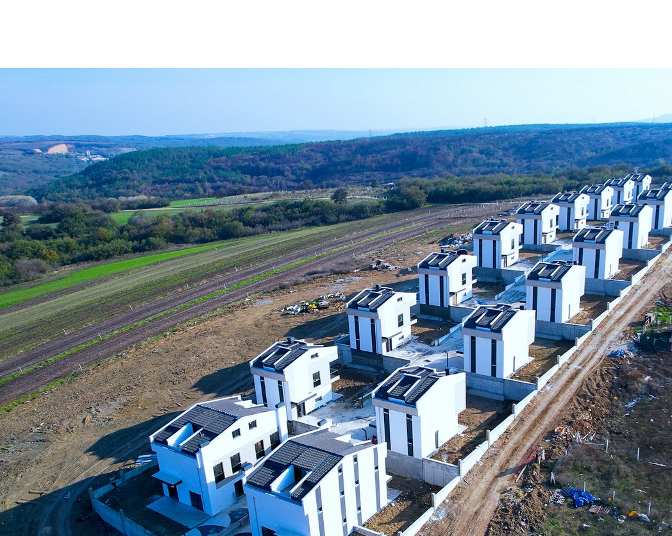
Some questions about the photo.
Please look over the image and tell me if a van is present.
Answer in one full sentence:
No, this view has no van in it.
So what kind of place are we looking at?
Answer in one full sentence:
This looks like a residential area.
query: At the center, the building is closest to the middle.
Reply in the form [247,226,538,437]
[347,284,418,354]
